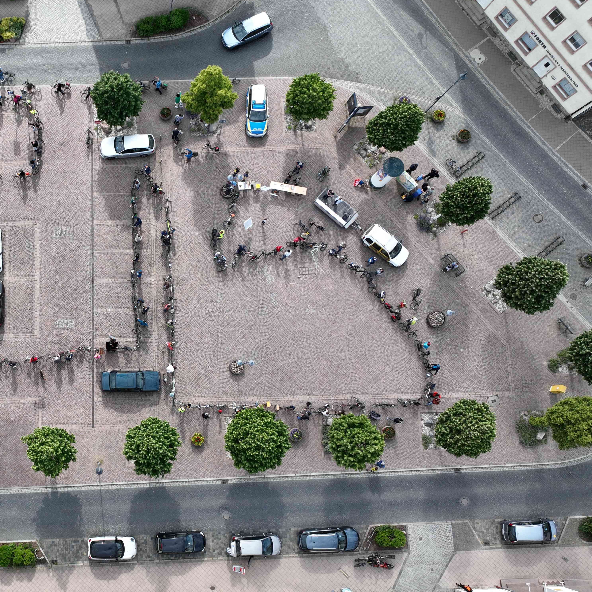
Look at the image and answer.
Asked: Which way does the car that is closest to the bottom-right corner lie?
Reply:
from side to side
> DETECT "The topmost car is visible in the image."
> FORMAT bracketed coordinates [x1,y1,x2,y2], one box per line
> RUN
[220,13,277,52]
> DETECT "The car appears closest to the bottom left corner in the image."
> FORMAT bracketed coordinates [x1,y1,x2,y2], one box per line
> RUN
[88,536,136,561]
